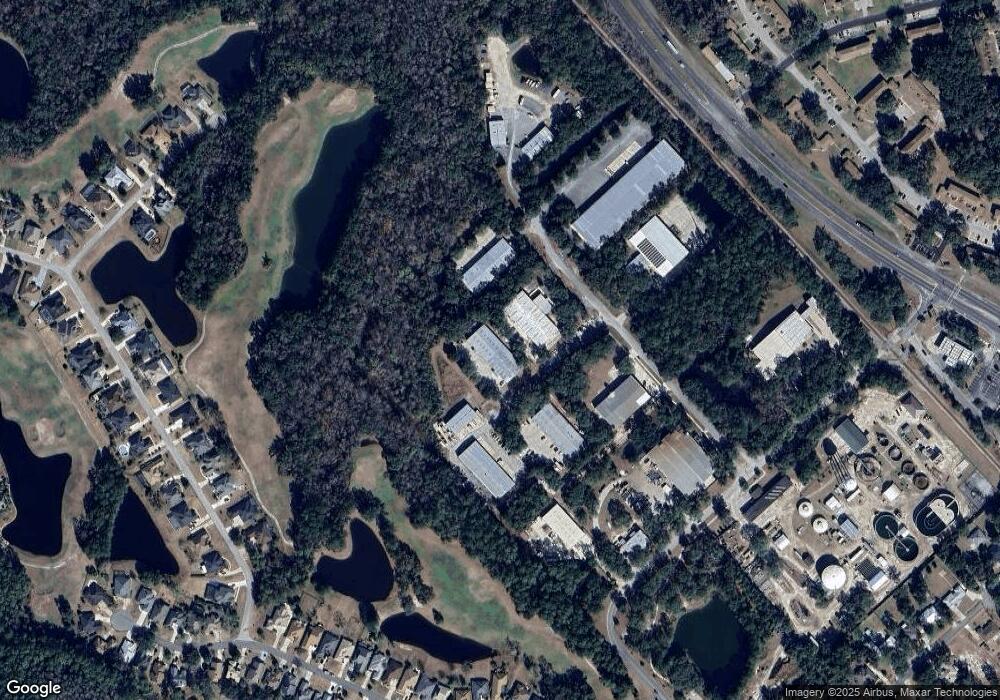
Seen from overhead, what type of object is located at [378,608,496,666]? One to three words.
pond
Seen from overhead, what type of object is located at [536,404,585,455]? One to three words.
building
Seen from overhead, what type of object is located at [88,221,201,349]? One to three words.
pond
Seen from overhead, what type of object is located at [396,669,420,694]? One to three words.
house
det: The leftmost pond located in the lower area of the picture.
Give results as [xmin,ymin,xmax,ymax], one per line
[0,401,74,558]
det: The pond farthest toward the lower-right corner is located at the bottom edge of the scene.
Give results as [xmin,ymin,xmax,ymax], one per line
[664,595,753,696]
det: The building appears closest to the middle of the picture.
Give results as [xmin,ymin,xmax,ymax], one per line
[467,326,520,383]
